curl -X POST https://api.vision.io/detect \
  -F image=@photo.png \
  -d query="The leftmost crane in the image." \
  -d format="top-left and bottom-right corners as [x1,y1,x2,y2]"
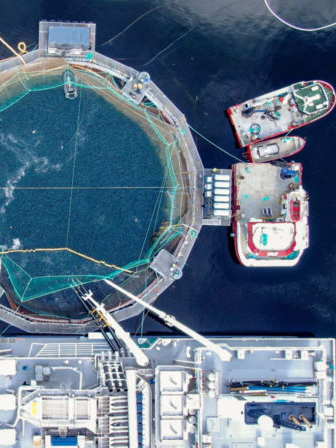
[79,285,147,375]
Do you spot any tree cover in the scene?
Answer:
No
